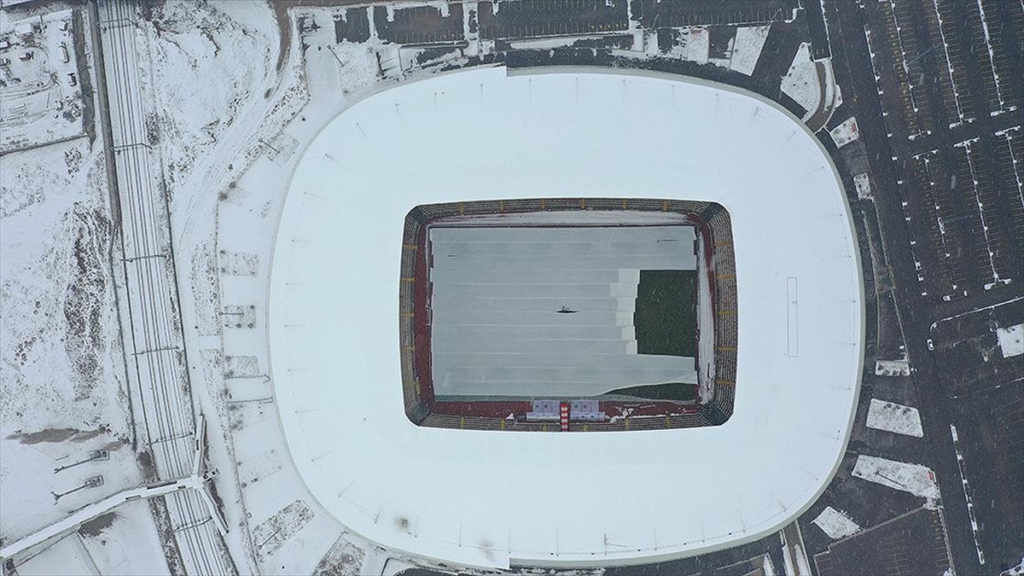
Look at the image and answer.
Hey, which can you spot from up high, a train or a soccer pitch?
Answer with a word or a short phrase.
soccer pitch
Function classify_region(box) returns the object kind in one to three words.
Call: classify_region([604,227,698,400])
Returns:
soccer field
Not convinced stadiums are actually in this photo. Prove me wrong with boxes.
[268,64,865,572]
